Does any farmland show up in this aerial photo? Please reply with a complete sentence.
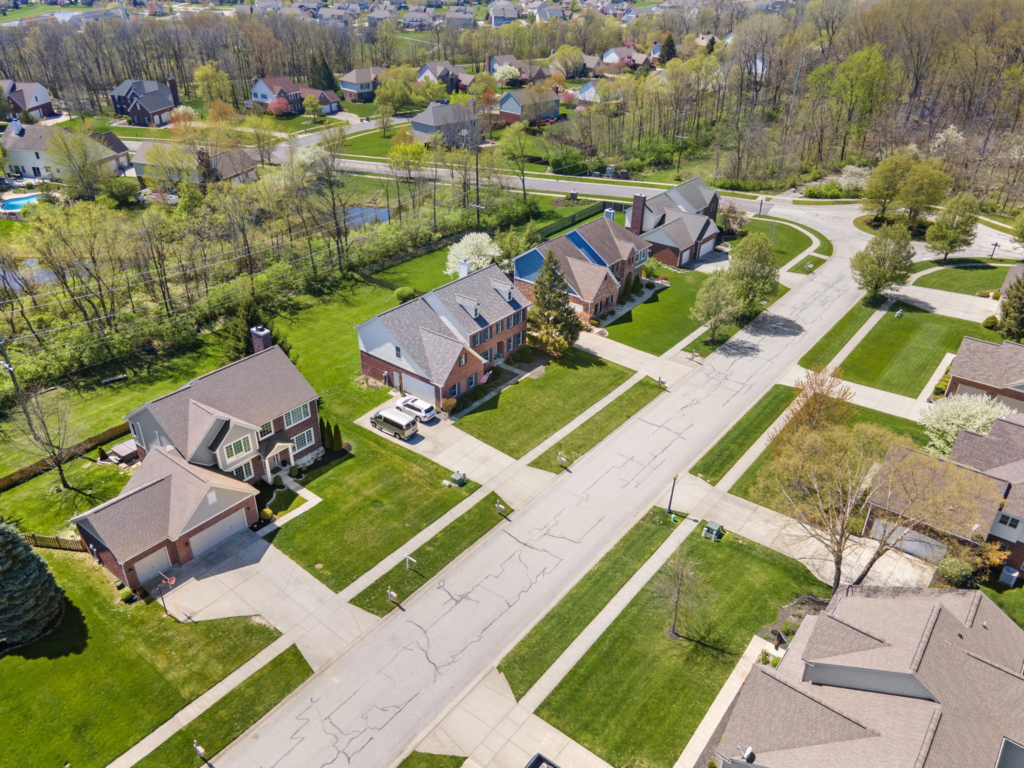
No, no farmland is visible.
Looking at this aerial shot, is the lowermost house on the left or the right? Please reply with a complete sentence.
It is on the right.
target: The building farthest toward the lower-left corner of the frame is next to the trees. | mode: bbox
[75,329,325,591]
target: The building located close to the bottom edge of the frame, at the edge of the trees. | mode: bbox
[709,577,1024,768]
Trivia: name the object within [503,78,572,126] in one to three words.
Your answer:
house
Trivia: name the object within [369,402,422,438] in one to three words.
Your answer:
van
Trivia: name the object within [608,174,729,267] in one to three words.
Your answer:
house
